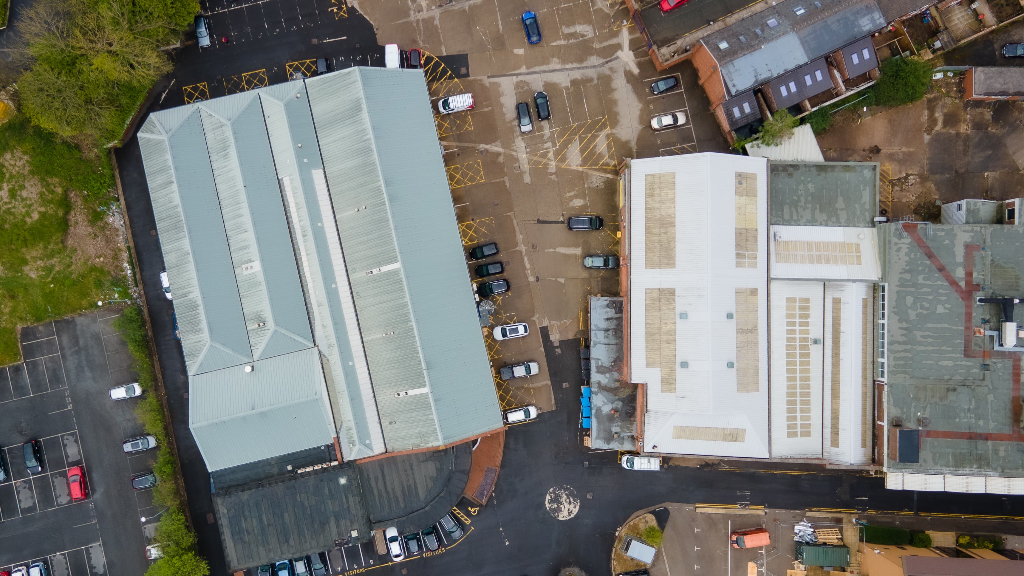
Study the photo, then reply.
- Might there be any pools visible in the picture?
No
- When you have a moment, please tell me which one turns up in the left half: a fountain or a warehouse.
warehouse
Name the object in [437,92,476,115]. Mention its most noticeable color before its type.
white vehicle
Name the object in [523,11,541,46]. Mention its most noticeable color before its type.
blue car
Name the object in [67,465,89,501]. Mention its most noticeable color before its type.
red car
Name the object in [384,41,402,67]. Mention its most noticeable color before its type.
white vehicle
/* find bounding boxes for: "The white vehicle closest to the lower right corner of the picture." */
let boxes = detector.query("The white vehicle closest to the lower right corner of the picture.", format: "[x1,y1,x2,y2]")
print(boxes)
[621,454,661,472]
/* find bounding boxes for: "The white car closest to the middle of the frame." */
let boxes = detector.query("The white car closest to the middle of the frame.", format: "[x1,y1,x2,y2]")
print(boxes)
[493,322,529,341]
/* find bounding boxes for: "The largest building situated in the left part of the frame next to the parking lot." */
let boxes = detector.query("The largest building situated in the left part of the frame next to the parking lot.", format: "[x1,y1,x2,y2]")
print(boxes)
[135,66,508,473]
